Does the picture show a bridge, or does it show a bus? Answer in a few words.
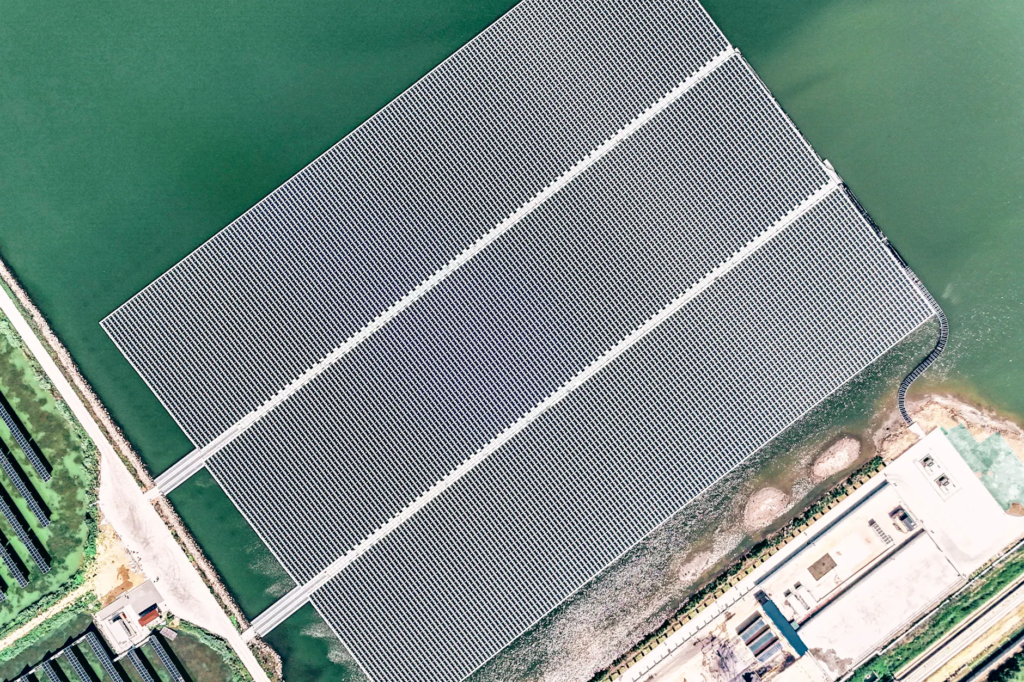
bridge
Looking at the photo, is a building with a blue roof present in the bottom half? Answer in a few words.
Yes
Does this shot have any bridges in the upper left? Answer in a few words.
No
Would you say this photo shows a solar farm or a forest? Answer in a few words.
solar farm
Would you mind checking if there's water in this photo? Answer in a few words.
Yes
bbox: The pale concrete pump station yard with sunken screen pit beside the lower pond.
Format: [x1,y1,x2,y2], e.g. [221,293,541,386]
[96,578,170,653]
